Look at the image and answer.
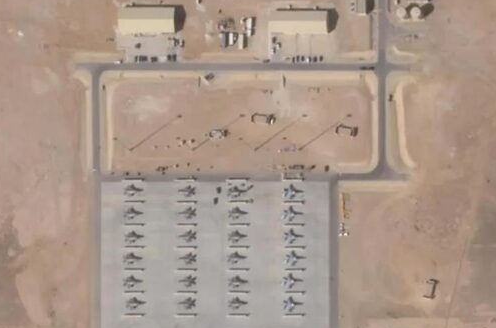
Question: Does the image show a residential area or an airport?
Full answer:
What you see here is an airport.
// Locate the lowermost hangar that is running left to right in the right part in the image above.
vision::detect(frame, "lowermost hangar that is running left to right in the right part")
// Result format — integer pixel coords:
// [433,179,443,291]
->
[267,11,329,34]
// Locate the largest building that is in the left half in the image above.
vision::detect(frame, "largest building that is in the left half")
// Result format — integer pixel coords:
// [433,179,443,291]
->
[117,6,177,34]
